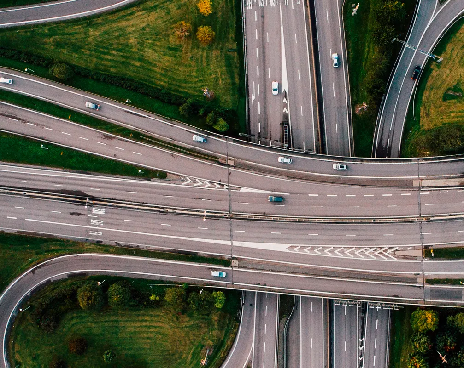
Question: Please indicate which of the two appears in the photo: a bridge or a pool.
bridge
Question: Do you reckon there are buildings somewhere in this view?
No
